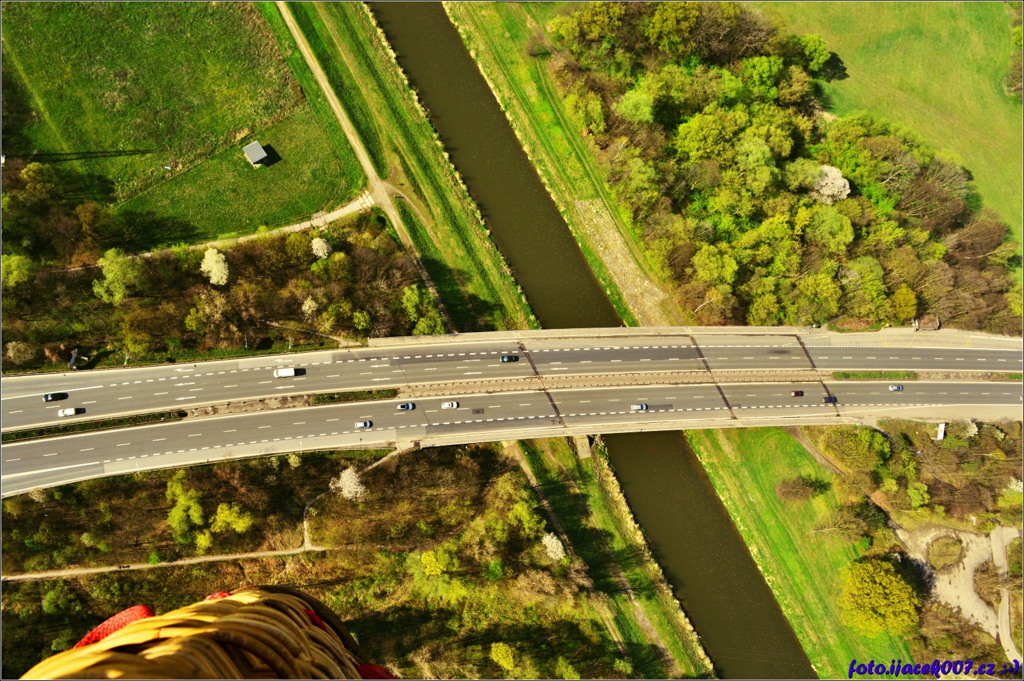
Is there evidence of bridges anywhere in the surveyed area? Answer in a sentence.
Yes, looking at the shot, I can spot a bridge.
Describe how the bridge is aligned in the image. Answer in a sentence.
From this overhead view, the bridge appears to run from side to side.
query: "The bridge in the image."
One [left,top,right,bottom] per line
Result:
[366,325,861,459]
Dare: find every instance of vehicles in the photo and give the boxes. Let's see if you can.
[822,398,836,404]
[631,405,646,412]
[396,404,413,412]
[791,392,804,398]
[441,403,457,410]
[501,356,517,364]
[274,367,296,378]
[44,393,64,403]
[58,408,77,419]
[354,421,370,429]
